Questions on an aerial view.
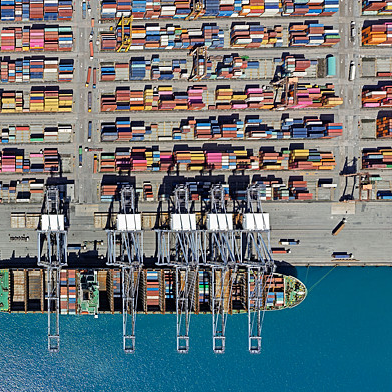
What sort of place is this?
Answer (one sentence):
It's a port.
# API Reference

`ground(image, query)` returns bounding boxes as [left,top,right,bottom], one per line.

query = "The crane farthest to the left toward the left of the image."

[31,186,69,353]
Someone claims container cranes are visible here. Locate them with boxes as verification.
[148,186,206,353]
[99,186,148,353]
[184,186,245,353]
[115,15,133,54]
[272,75,298,112]
[342,174,372,203]
[31,186,69,353]
[186,45,208,84]
[217,186,285,353]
